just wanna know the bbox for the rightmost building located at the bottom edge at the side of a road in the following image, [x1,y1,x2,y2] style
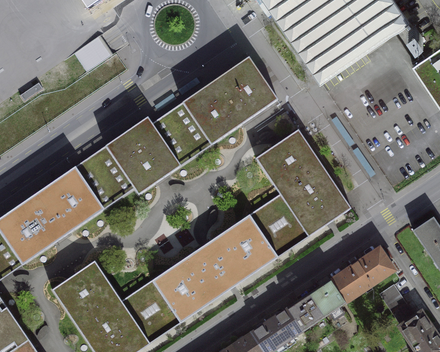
[398,309,440,352]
